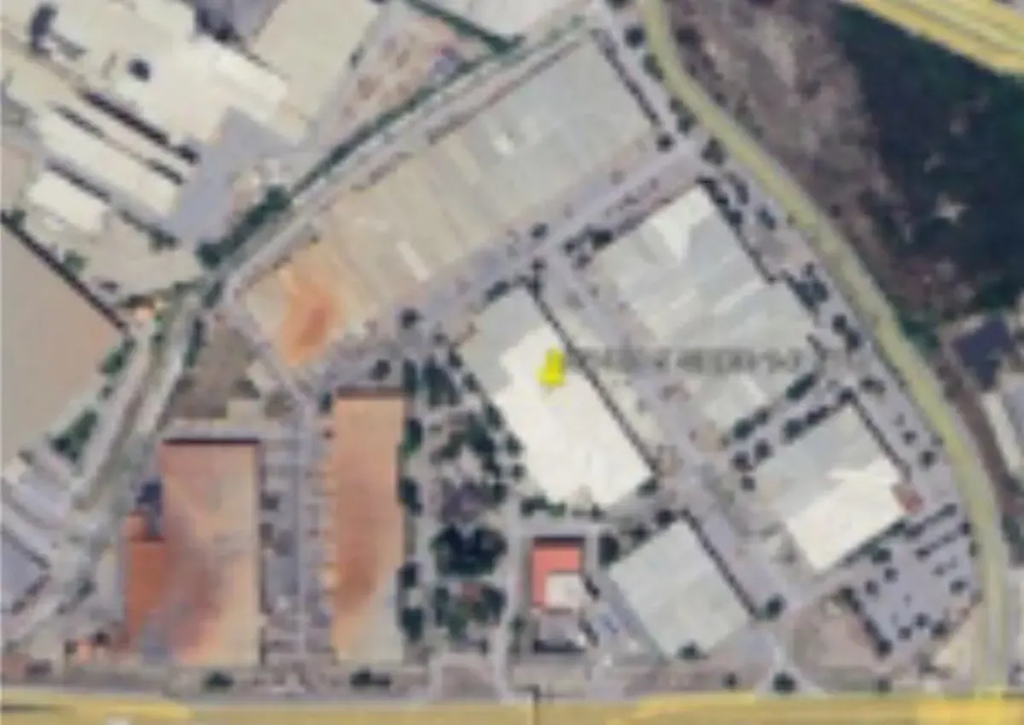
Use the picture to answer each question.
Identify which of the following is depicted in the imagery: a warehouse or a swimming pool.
warehouse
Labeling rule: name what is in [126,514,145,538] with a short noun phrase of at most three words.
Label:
shed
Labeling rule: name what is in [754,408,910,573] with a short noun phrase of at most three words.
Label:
warehouse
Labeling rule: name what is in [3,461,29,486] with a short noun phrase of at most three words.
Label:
house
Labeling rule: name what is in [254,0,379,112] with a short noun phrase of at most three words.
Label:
building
